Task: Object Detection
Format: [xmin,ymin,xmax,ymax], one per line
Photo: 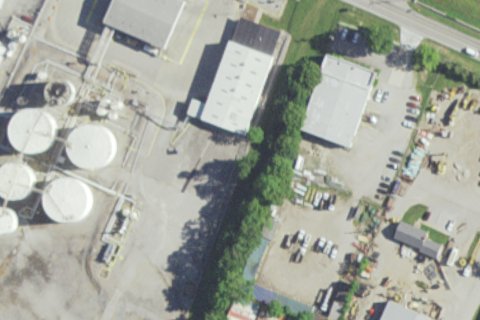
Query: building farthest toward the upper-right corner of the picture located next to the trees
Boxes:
[300,56,376,147]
